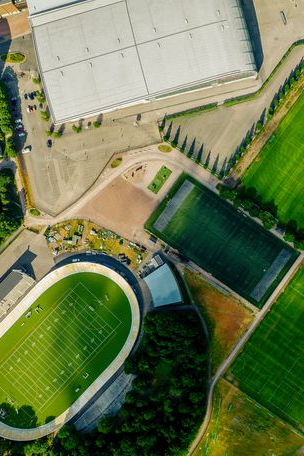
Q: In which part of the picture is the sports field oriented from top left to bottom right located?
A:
right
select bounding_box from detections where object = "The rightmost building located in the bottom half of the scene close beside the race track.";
[144,263,184,306]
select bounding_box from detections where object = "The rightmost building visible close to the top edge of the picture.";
[27,0,258,129]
